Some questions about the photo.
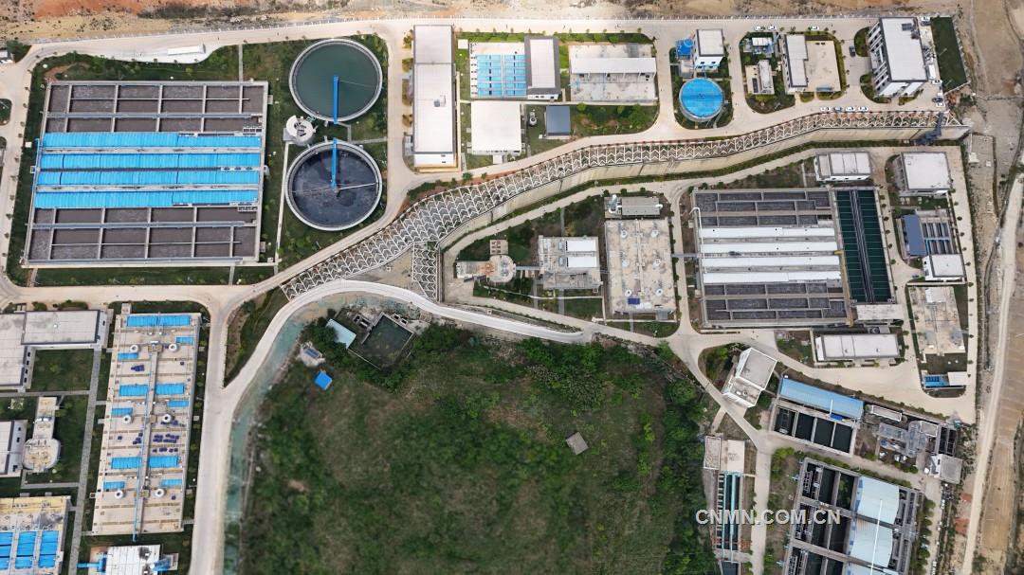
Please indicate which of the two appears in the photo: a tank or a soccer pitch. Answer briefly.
tank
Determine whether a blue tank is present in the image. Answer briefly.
Yes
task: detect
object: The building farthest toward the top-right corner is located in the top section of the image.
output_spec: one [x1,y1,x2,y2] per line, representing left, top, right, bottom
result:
[866,16,929,96]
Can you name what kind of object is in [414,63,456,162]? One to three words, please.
building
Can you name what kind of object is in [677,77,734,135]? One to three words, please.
storage tank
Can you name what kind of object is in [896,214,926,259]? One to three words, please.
house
